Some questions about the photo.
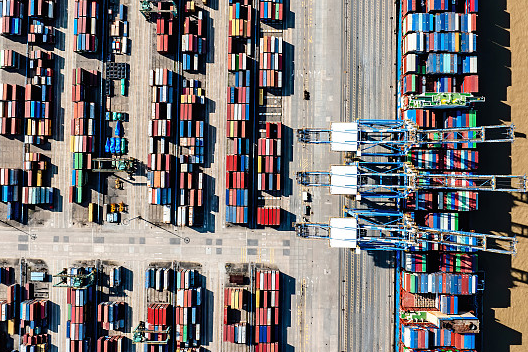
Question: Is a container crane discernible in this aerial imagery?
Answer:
Yes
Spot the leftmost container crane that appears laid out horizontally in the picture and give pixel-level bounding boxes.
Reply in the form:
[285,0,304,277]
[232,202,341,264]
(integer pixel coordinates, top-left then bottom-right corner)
[52,267,97,289]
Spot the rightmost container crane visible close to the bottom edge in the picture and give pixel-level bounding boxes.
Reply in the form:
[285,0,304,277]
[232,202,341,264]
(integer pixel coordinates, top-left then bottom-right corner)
[130,321,173,346]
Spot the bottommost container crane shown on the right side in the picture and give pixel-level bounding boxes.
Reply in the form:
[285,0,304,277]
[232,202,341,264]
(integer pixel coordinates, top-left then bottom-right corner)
[294,205,512,256]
